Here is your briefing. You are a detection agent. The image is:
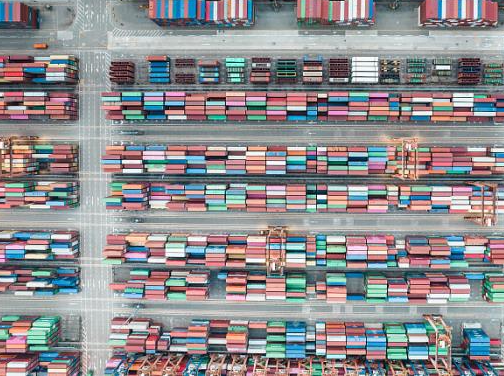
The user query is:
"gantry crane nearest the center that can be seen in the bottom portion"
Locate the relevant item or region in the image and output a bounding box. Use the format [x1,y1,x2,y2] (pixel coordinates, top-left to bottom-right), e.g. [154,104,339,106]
[266,222,286,276]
